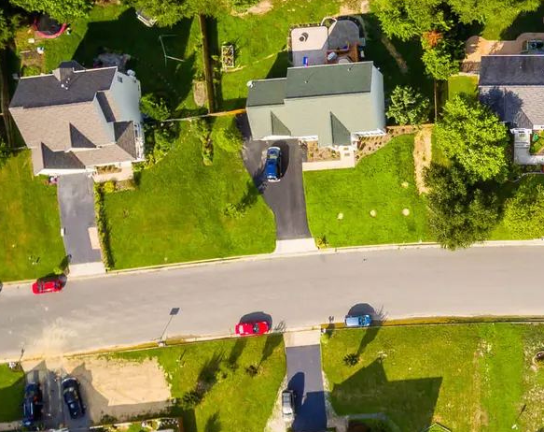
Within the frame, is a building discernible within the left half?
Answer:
Yes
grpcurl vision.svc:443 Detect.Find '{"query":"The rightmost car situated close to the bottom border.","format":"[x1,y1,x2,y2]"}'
[279,388,294,420]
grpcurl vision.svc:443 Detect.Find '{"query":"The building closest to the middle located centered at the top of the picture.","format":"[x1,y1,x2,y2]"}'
[245,62,386,155]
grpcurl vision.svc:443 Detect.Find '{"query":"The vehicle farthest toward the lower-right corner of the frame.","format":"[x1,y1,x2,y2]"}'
[342,314,371,327]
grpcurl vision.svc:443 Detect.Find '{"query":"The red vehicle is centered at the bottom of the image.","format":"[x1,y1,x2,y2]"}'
[232,320,267,335]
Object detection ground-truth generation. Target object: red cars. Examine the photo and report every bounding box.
[28,278,61,293]
[232,320,267,335]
